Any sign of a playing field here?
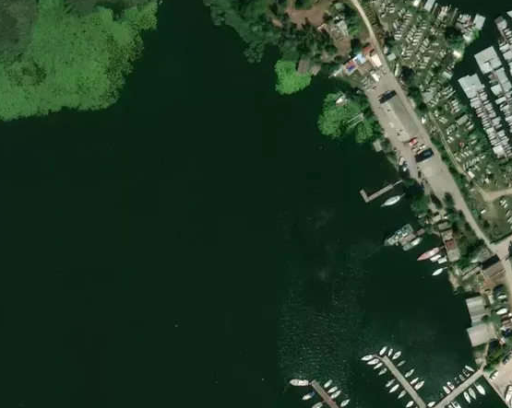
No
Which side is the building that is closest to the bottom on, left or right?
right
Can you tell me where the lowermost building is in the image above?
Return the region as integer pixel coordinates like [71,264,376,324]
[467,323,496,346]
